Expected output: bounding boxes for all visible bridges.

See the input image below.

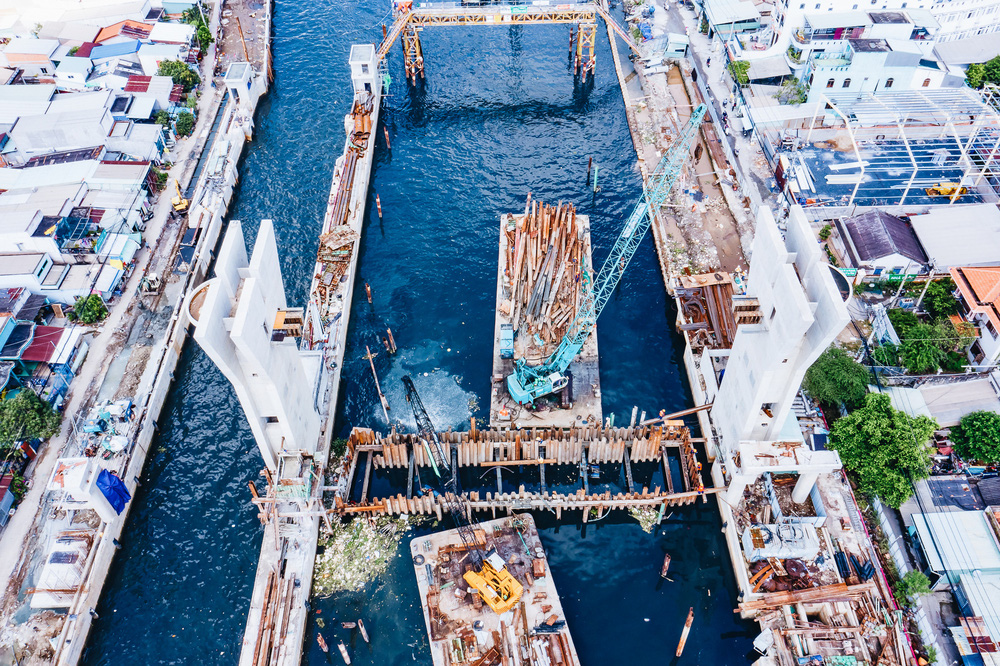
[403,0,603,94]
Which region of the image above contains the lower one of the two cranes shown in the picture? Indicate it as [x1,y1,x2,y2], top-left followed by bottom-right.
[399,372,521,618]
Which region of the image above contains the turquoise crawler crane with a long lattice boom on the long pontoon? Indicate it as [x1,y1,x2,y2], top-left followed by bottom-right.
[507,101,707,403]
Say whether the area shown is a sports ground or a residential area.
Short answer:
residential area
